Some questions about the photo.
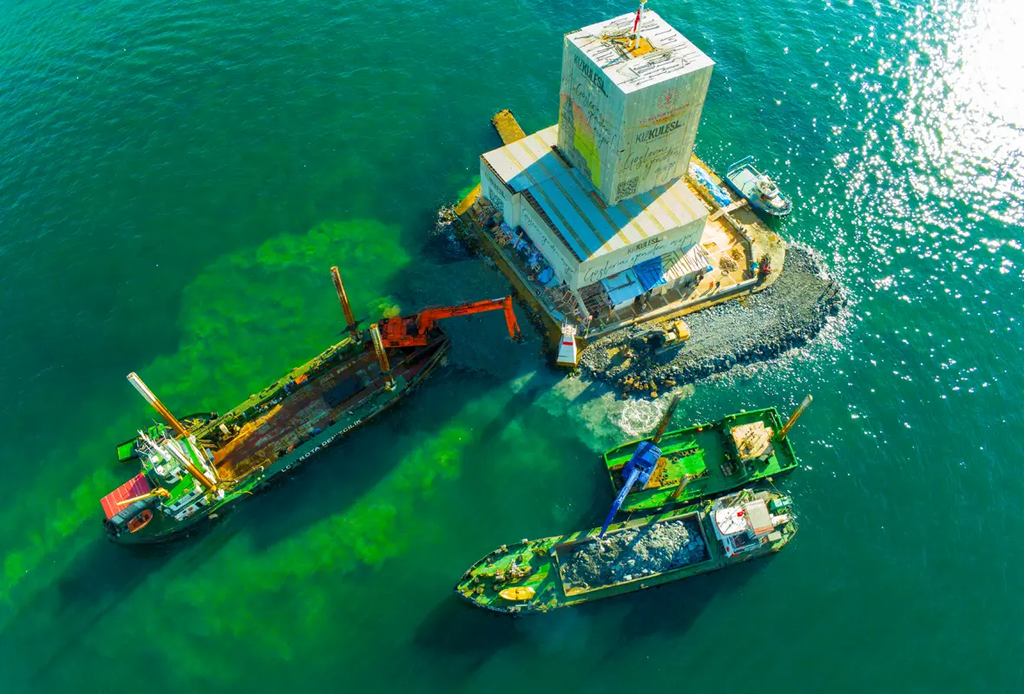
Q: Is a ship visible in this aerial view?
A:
Yes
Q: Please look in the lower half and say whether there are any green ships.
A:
Yes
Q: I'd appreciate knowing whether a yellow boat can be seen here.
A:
Yes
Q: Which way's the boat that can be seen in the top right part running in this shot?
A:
diagonally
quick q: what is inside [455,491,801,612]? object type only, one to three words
ship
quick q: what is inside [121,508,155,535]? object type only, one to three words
boat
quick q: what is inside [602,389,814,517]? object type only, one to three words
ship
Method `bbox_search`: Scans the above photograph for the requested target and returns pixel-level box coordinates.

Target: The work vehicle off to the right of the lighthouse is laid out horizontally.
[621,314,689,351]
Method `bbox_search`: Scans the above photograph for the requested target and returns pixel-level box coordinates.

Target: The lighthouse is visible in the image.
[549,322,577,377]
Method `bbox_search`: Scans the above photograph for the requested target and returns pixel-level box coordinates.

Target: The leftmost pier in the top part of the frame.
[494,111,530,144]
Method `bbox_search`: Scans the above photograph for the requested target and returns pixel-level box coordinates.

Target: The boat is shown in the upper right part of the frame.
[724,156,795,220]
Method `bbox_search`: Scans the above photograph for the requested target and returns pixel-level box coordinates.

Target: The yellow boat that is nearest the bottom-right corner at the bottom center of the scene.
[500,586,538,602]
